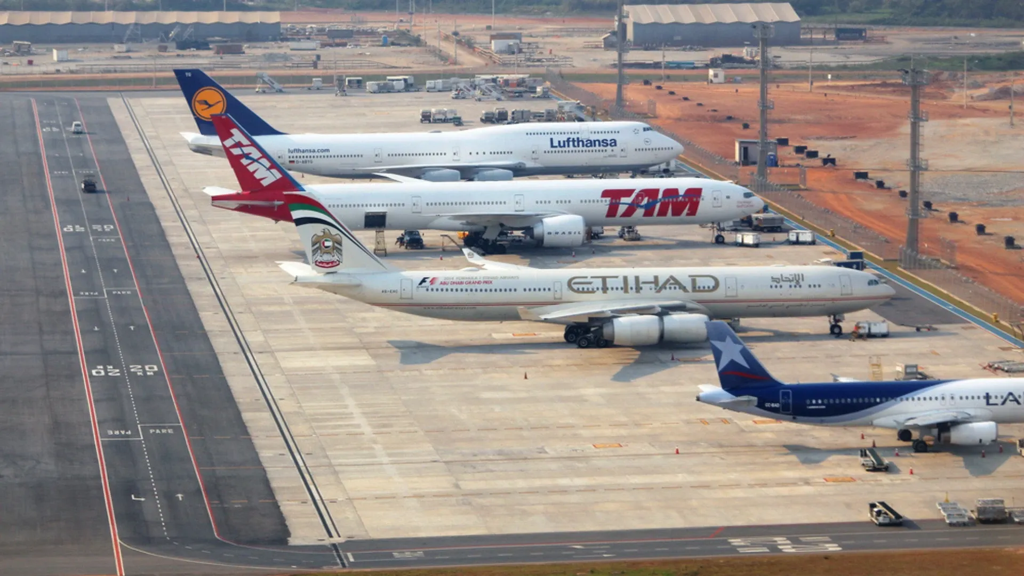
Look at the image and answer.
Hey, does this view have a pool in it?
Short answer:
No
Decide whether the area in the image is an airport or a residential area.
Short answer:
airport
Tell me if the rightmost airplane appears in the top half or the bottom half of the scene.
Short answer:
bottom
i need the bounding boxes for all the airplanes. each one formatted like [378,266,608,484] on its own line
[281,193,895,348]
[695,322,1024,453]
[204,114,764,254]
[174,69,683,183]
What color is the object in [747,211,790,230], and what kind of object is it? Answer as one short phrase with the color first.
gray vehicle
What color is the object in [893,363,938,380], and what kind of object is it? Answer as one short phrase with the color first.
gray work vehicle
